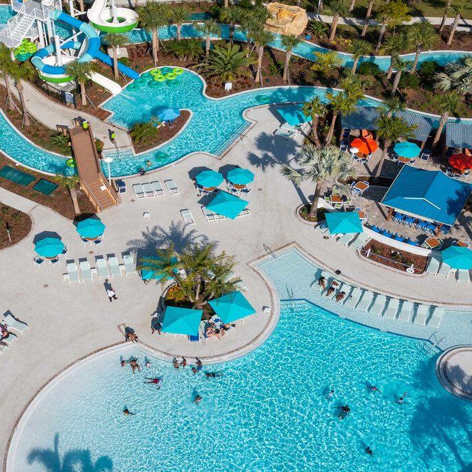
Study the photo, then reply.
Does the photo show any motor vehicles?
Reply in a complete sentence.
No, no motor vehicle is visible in the view.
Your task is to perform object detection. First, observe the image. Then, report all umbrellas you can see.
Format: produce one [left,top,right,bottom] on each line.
[195,170,224,199]
[35,238,65,267]
[209,291,255,324]
[349,139,378,156]
[154,109,180,135]
[393,143,420,161]
[326,212,363,241]
[441,243,472,272]
[206,191,247,224]
[277,105,311,133]
[163,307,201,337]
[226,168,254,188]
[76,220,105,250]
